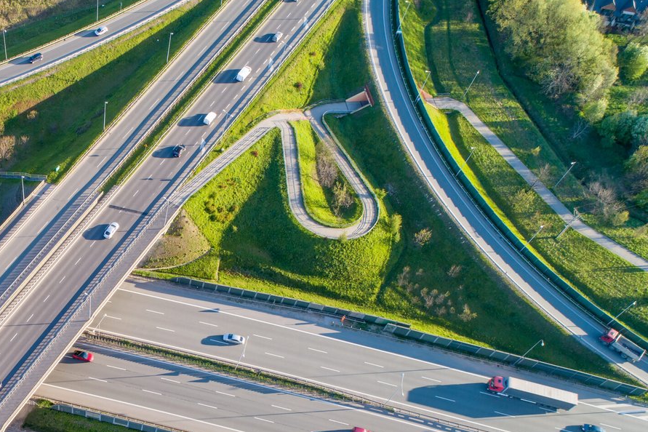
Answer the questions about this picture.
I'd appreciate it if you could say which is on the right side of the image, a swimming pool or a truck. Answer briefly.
truck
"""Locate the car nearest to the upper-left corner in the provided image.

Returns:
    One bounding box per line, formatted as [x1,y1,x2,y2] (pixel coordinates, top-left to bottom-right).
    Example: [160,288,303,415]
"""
[27,52,44,65]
